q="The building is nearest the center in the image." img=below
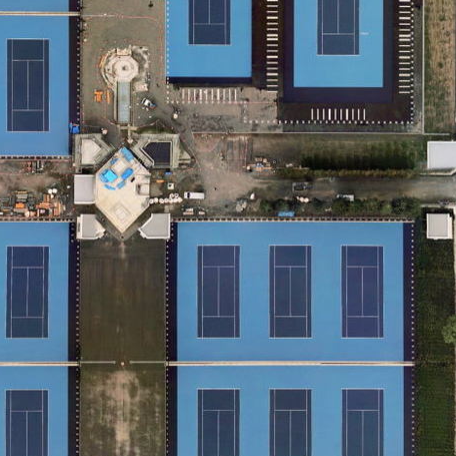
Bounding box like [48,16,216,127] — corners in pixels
[138,213,170,239]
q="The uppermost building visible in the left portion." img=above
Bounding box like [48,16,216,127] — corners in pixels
[74,175,94,204]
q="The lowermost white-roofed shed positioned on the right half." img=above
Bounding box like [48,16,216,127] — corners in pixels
[427,213,453,239]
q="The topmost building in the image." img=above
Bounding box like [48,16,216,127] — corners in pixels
[425,142,456,168]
